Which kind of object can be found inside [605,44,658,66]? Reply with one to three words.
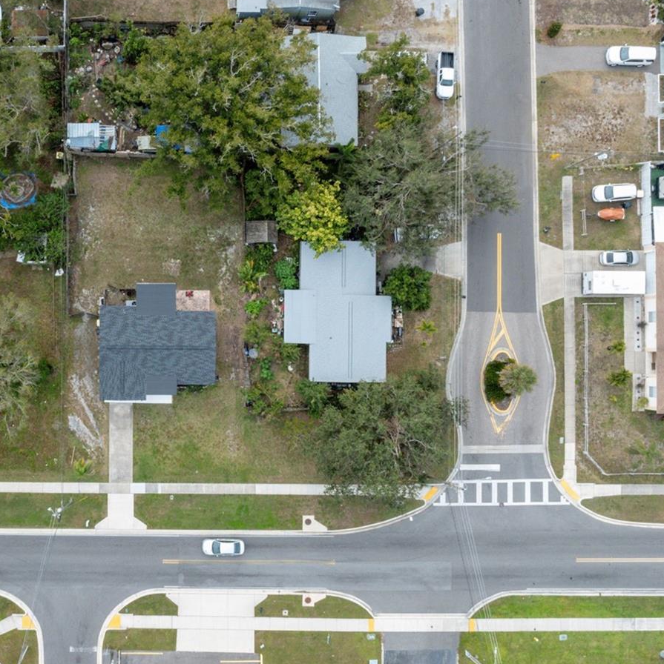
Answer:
car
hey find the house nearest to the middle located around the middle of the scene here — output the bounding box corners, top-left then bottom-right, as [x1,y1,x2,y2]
[284,242,391,382]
